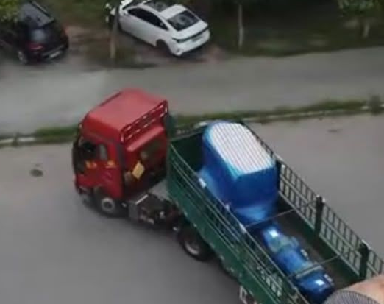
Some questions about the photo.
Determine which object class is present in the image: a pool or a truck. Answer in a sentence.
The one in the frame is a truck.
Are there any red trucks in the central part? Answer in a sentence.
Yes, a red truck shows up in the central part.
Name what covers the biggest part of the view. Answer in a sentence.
Most of the picture is covered by paved ground.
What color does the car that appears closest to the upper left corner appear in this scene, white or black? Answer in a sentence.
The car that appears closest to the upper left corner is black.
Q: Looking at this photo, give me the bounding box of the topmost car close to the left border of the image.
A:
[0,0,69,63]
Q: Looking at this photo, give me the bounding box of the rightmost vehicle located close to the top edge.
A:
[108,0,208,56]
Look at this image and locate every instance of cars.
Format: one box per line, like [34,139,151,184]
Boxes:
[108,0,208,56]
[0,0,69,63]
